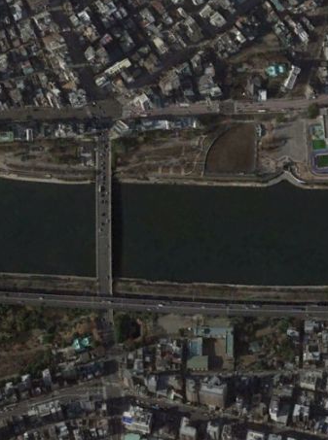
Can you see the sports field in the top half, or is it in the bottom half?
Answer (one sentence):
The sports field is in the top half of the image.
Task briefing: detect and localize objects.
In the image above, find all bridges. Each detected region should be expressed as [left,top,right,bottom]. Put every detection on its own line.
[95,115,113,298]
